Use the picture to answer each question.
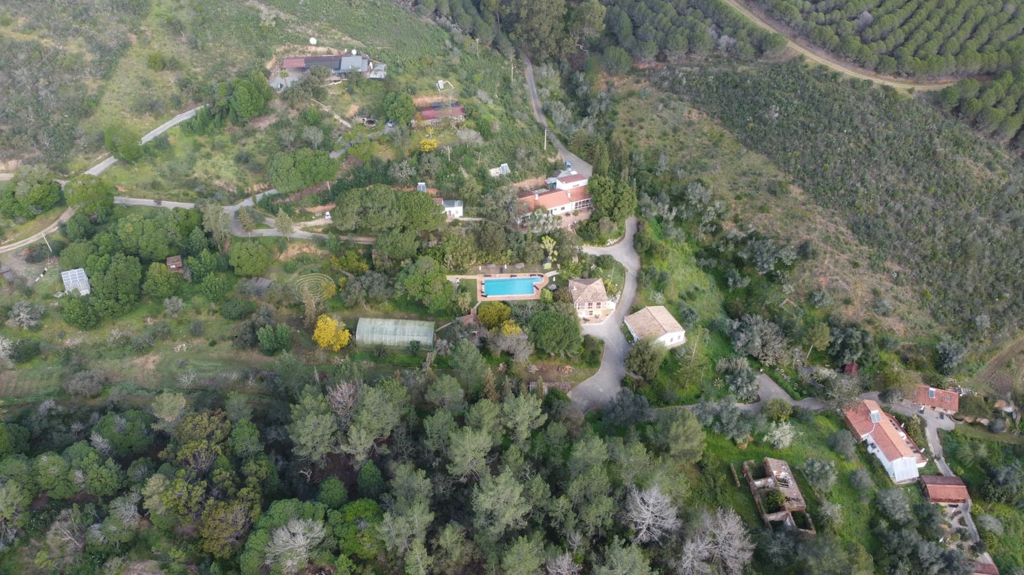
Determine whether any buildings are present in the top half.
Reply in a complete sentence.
Yes, a building appears in the top half.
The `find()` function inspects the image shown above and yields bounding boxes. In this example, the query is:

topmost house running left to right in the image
[280,54,371,78]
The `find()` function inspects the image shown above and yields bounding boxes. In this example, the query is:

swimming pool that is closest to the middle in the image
[477,273,549,302]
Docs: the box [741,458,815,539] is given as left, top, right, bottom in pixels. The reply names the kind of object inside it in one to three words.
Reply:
house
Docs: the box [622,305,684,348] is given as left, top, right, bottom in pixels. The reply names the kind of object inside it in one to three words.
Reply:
house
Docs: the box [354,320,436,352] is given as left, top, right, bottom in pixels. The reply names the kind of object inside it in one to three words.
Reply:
greenhouse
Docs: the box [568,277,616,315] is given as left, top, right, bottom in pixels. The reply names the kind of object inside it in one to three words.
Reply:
building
